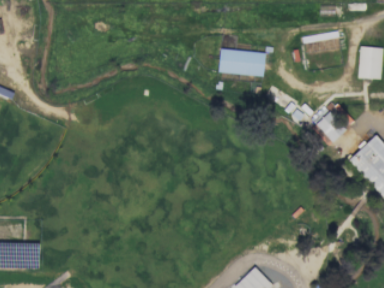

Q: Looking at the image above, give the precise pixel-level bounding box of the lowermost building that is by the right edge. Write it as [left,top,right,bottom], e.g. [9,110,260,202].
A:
[350,135,384,201]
